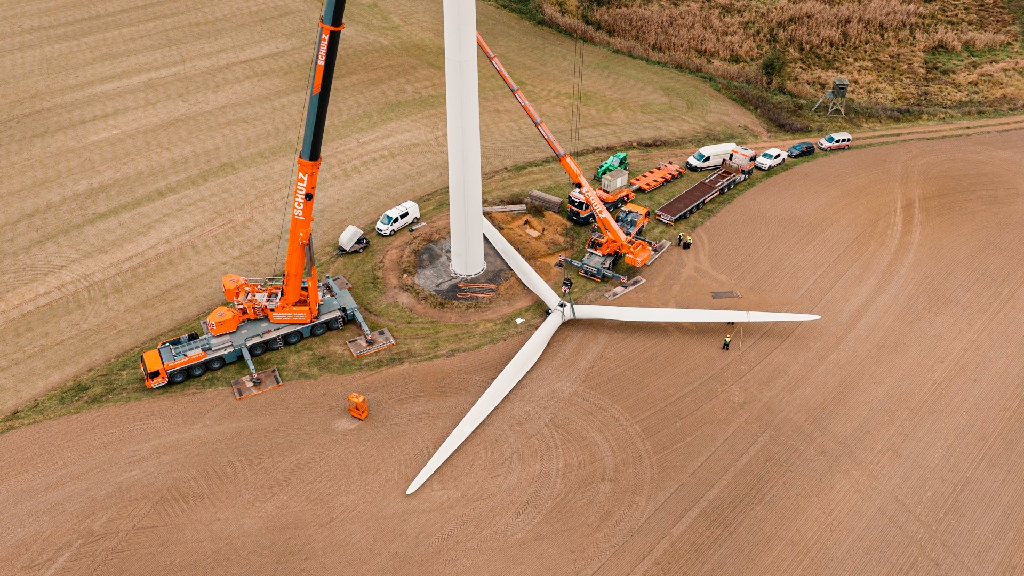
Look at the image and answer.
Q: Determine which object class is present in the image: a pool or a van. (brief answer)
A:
van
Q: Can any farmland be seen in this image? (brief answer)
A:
Yes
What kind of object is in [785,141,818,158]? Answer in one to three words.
car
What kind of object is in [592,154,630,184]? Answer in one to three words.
work vehicle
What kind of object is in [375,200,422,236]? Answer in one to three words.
van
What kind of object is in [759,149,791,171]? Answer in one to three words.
truck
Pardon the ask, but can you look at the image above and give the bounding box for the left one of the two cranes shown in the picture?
[135,0,374,390]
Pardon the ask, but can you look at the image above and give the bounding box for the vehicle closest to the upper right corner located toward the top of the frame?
[817,132,853,152]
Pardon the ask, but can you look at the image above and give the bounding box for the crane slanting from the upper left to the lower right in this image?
[475,24,662,291]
